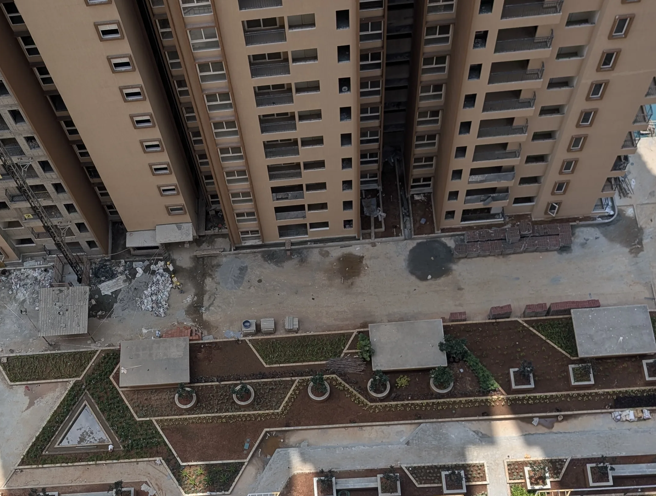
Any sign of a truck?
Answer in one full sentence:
No, there isn't any truck down there.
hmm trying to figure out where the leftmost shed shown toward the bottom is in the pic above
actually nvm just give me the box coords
[38,286,98,348]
